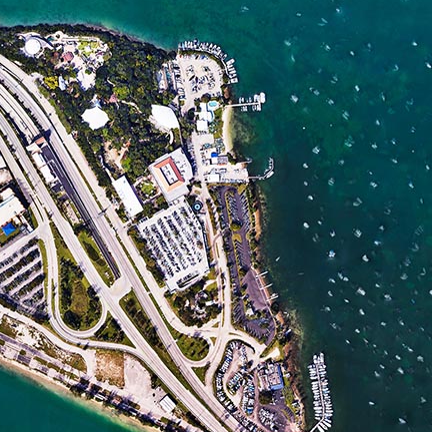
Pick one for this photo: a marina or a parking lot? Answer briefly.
marina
